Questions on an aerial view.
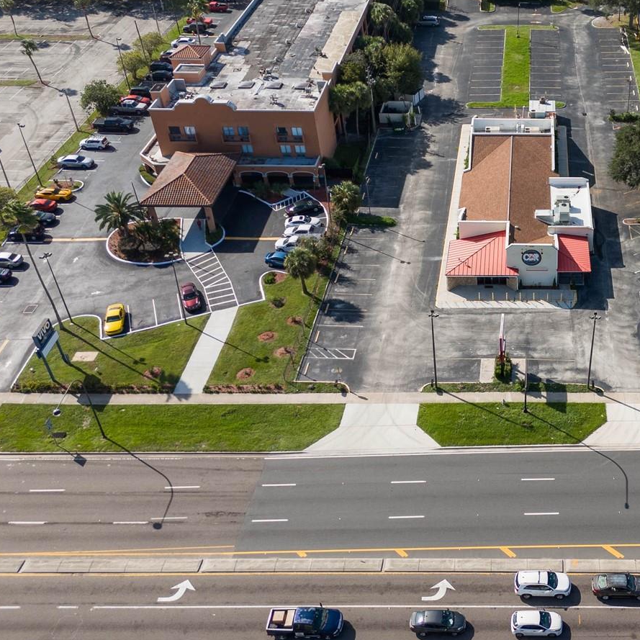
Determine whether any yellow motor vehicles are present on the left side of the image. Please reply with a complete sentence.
Yes, there is a yellow motor vehicle on the left side of the image.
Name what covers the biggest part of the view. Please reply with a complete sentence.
For the most part, this view shows paved ground.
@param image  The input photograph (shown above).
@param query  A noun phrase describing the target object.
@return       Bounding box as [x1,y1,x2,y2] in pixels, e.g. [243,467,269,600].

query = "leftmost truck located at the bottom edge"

[264,602,343,637]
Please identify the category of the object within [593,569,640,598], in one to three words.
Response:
car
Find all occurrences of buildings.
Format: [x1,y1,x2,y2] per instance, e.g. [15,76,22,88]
[447,110,595,291]
[136,0,395,232]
